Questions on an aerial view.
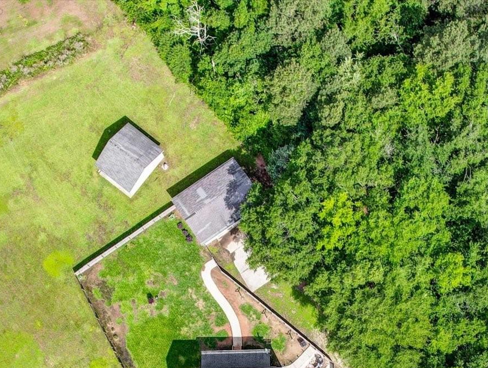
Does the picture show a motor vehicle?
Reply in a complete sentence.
No, no motor vehicle can be seen from above.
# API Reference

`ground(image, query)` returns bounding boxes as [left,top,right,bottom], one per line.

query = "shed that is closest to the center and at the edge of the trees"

[173,160,259,247]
